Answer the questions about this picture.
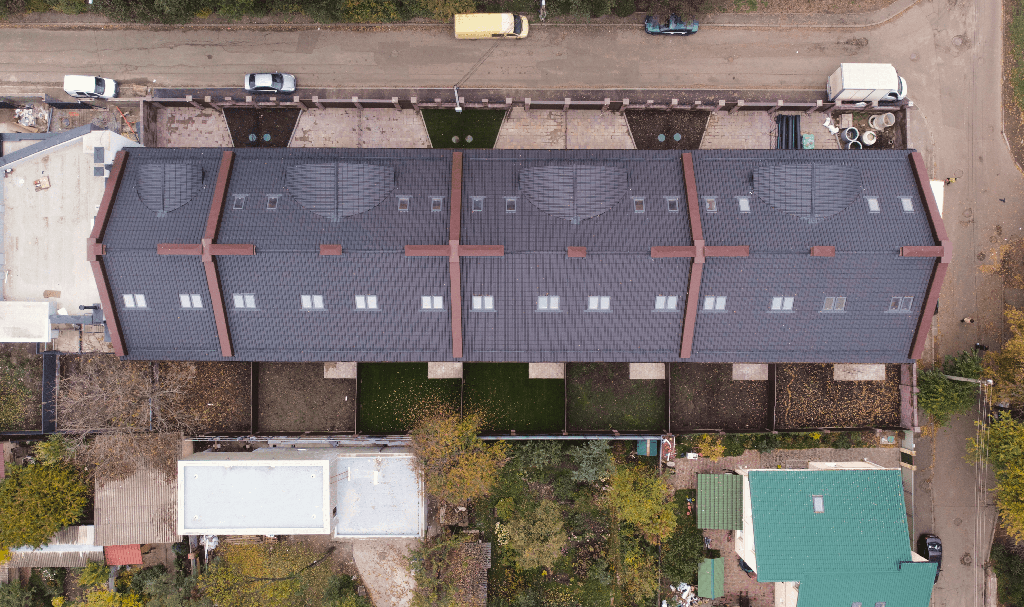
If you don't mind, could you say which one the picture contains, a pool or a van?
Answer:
van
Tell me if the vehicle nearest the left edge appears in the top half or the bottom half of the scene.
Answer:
top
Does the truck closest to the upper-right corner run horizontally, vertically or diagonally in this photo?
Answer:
horizontally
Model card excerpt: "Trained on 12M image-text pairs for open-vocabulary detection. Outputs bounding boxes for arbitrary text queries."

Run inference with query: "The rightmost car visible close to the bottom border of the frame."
[917,532,944,584]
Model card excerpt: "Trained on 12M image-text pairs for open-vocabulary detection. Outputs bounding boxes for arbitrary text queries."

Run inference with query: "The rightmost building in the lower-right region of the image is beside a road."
[736,458,937,607]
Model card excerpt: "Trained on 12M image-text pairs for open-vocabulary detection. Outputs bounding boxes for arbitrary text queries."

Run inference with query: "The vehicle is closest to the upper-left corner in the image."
[58,75,122,100]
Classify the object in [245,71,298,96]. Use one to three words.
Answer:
car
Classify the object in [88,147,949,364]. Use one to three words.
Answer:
house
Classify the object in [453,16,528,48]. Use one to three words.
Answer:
van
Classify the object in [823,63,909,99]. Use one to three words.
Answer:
truck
